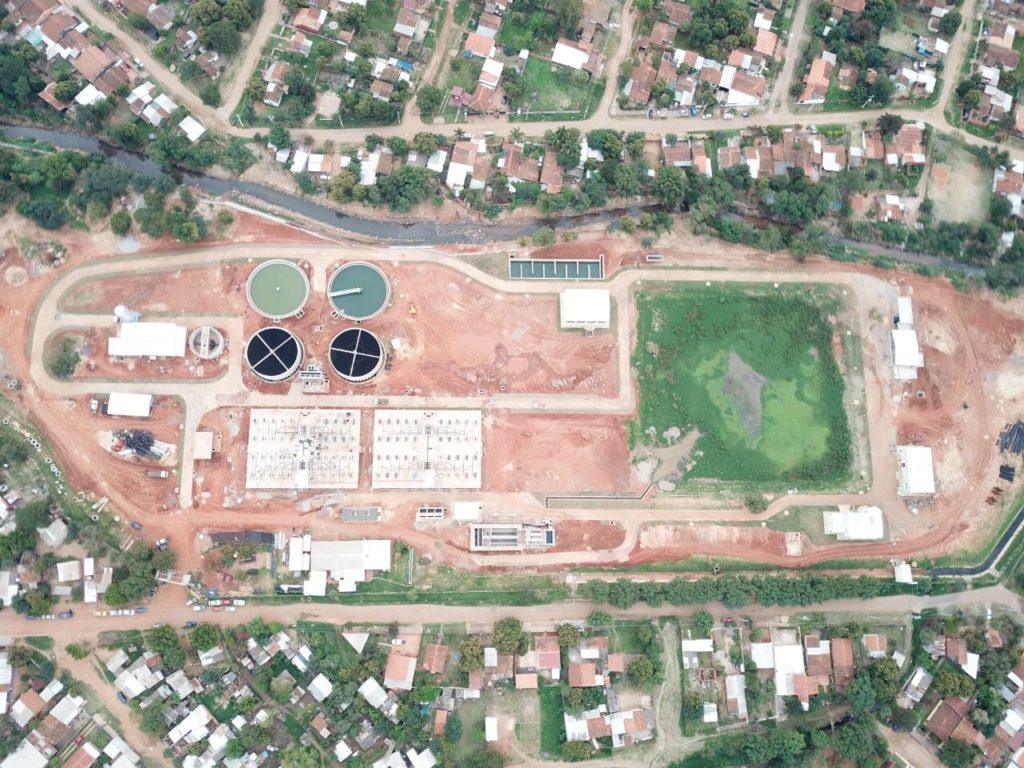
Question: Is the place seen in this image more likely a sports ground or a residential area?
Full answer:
This looks like a residential area.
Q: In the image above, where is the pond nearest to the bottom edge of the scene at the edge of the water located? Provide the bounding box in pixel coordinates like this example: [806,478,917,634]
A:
[632,285,852,489]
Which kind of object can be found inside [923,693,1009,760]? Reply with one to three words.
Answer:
house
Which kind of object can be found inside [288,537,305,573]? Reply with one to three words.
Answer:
building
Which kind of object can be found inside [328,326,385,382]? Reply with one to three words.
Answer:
storage tank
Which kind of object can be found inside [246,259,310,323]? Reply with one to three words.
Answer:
storage tank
